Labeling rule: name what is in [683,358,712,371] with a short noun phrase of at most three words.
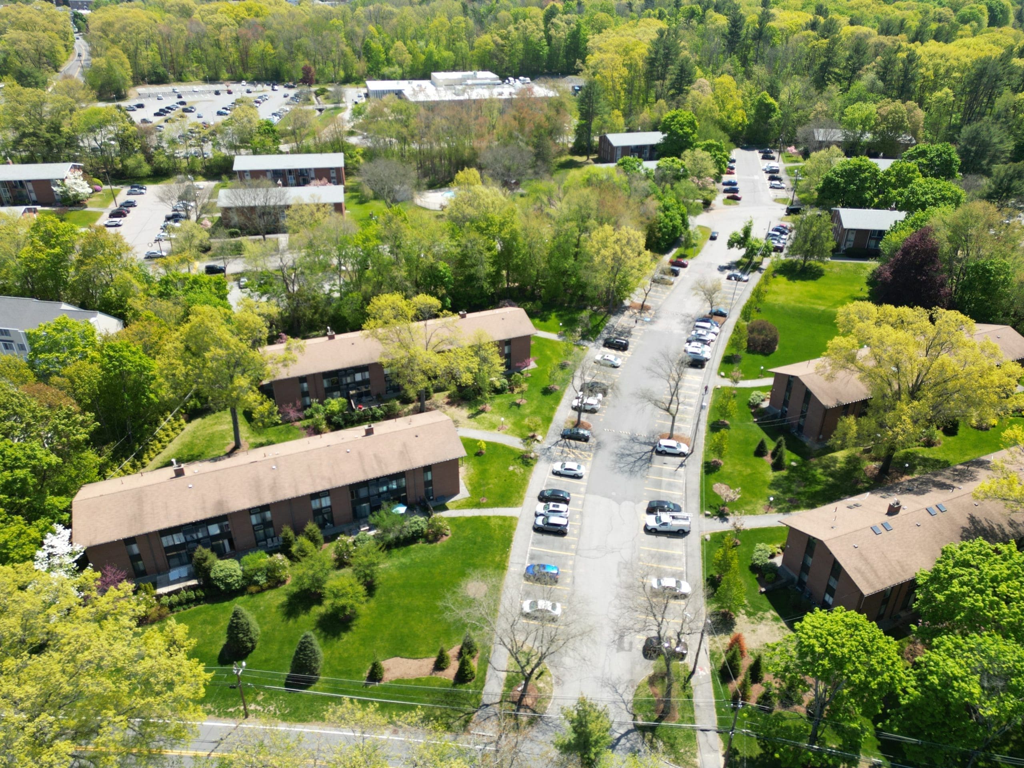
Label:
vehicle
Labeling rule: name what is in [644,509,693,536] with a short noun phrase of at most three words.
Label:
truck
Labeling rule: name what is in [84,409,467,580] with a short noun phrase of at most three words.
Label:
building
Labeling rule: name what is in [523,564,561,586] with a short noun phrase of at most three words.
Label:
car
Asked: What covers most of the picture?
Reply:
trees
